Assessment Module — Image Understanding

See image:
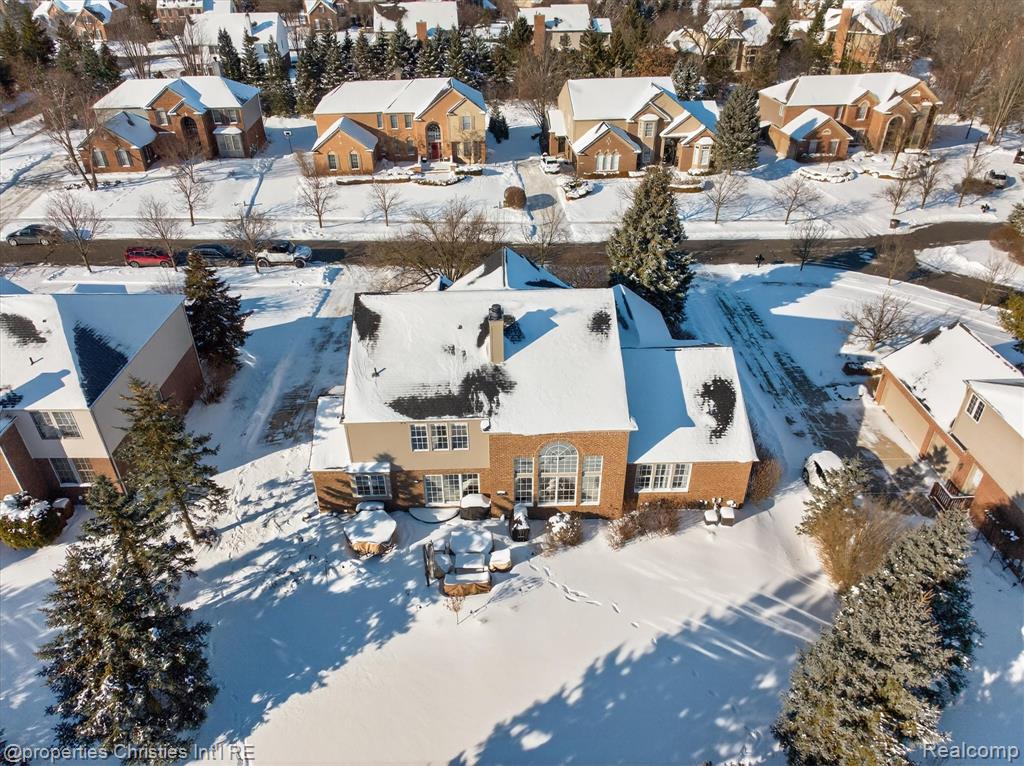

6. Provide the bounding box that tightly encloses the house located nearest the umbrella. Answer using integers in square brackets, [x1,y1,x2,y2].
[303,247,759,520]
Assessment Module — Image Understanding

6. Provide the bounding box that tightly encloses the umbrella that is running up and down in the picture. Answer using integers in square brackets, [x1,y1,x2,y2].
[420,546,439,583]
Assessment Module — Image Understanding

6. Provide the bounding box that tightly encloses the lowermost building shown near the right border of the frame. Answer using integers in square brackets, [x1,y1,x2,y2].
[876,313,1024,549]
